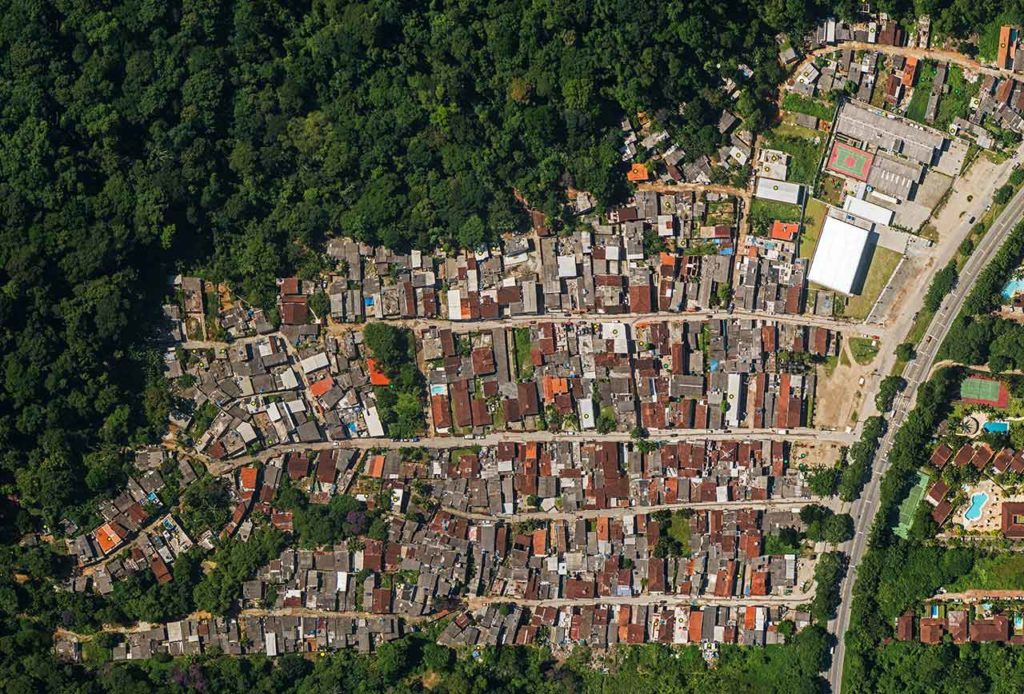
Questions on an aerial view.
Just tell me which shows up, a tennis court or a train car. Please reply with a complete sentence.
The image shows a tennis court.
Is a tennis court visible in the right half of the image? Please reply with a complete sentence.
Yes, a tennis court shows up in the right half of the image.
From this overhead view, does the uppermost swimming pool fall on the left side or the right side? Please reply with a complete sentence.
The uppermost swimming pool sits on the right side.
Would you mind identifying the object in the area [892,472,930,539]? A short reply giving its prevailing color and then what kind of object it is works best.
green tennis court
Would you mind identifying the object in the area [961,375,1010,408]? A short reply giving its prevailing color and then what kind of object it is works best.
green tennis court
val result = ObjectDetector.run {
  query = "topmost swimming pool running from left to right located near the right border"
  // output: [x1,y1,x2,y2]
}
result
[982,421,1011,434]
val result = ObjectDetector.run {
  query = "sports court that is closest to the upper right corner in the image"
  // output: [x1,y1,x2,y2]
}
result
[828,141,871,179]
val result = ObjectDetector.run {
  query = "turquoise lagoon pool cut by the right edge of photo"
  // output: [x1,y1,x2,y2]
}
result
[1001,279,1024,299]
